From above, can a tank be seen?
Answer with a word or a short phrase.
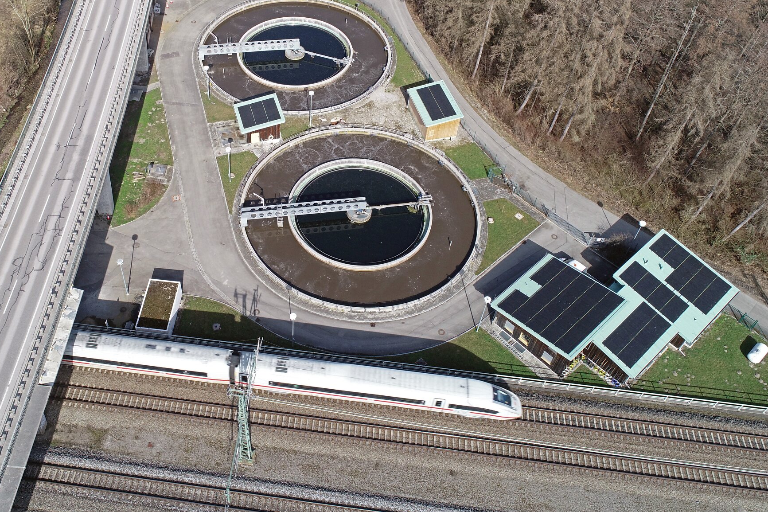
Yes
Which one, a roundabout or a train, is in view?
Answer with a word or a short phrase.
train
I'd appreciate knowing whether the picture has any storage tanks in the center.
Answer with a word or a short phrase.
Yes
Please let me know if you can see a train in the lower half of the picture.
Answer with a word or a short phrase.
Yes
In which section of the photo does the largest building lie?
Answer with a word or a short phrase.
right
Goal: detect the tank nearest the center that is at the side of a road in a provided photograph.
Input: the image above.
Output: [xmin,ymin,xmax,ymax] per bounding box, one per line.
[239,123,482,312]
